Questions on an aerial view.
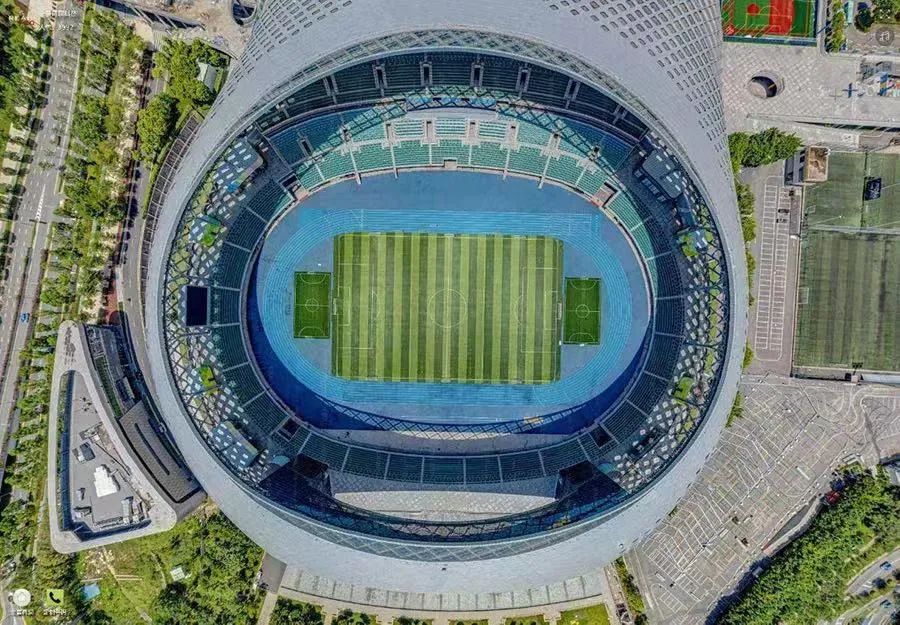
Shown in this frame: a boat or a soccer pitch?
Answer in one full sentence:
This aerial view contains a soccer pitch.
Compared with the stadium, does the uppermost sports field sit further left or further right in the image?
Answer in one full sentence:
In the image, the uppermost sports field sits on the right side of the stadium.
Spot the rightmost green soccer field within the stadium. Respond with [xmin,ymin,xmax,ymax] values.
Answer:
[564,278,601,345]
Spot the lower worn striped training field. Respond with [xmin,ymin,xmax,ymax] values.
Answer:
[796,233,900,369]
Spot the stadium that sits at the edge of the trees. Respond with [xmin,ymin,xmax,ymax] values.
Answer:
[145,0,749,593]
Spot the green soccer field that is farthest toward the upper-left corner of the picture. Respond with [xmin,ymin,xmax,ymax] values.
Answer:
[294,272,330,338]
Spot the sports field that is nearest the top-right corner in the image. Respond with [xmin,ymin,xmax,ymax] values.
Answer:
[803,152,900,229]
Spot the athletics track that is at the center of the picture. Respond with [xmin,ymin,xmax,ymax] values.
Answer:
[260,208,637,405]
